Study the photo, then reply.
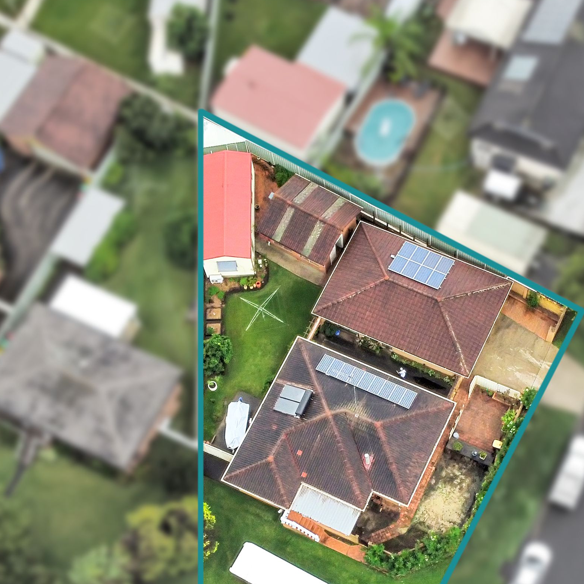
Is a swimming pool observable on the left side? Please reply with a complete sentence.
No, no swimming pool appears on the left side.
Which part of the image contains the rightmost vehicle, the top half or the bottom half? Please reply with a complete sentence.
Seen from above, the rightmost vehicle lies in the bottom half of the view.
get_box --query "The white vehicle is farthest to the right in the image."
[549,439,584,512]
